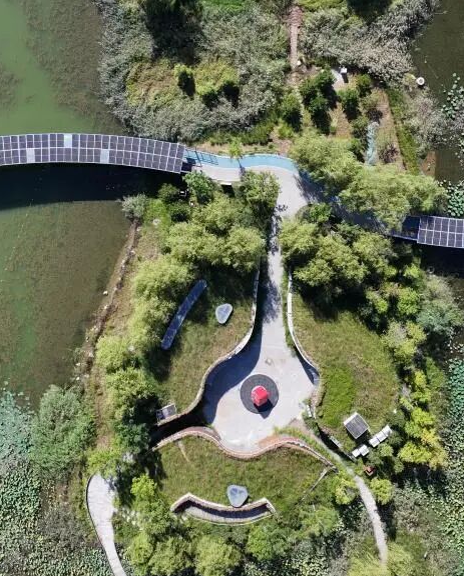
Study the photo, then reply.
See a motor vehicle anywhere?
No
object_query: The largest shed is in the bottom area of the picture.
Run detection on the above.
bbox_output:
[339,409,367,436]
